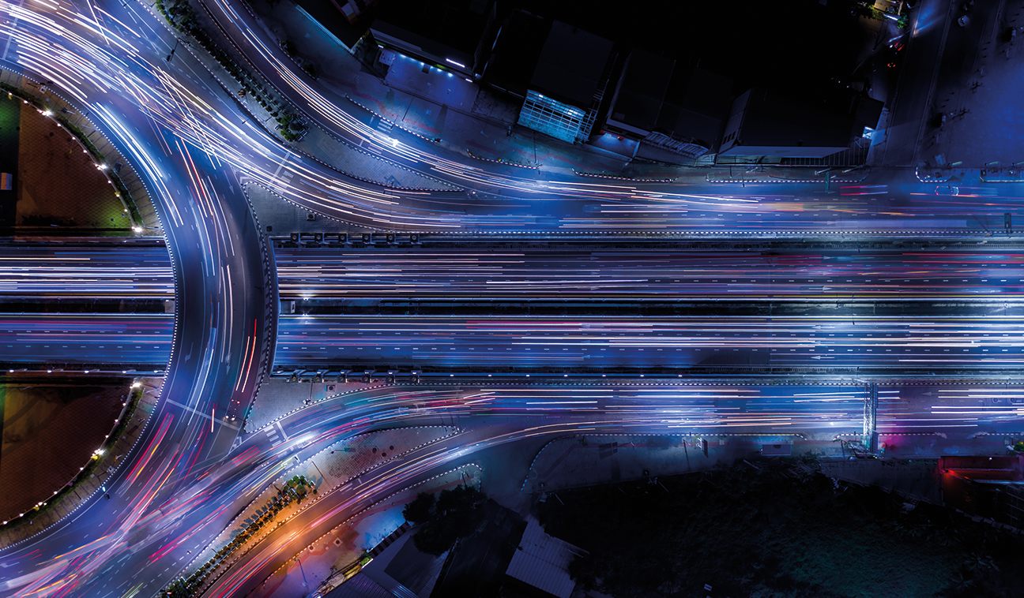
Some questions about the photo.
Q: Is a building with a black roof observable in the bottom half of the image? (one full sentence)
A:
Yes, a building with a black roof is visible in the bottom half of the image.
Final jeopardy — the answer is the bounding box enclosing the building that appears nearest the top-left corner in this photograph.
[294,0,378,65]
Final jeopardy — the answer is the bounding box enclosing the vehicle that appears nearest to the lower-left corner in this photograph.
[224,399,239,422]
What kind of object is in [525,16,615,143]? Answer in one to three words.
building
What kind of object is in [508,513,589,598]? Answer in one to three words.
shed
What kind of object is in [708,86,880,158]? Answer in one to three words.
building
